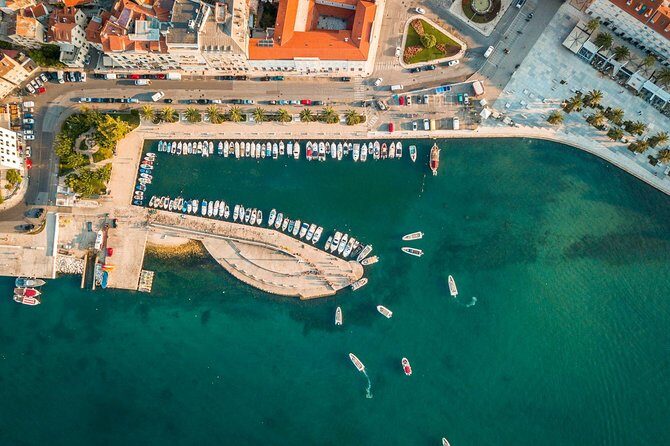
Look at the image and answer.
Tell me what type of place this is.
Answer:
port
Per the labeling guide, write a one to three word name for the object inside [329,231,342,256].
boat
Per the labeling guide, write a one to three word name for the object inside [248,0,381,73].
building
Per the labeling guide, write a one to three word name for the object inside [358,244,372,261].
boat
